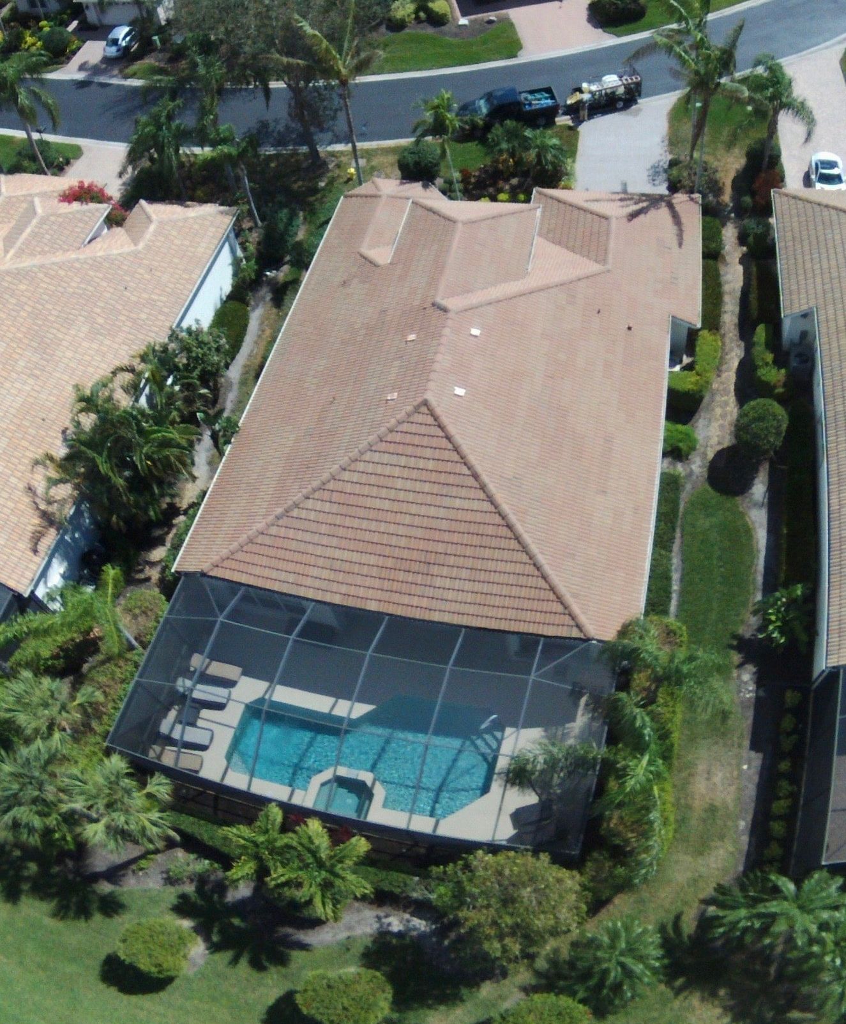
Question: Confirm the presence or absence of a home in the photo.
Yes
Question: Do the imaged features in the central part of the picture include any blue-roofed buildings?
No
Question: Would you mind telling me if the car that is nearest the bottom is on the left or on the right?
right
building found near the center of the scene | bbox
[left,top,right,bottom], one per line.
[169,177,708,667]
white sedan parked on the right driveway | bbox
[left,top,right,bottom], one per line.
[803,147,846,197]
